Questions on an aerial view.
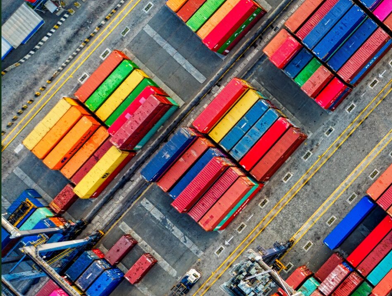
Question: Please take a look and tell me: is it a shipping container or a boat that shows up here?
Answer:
shipping container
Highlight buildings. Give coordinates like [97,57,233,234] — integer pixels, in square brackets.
[44,0,66,16]
[0,2,50,49]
